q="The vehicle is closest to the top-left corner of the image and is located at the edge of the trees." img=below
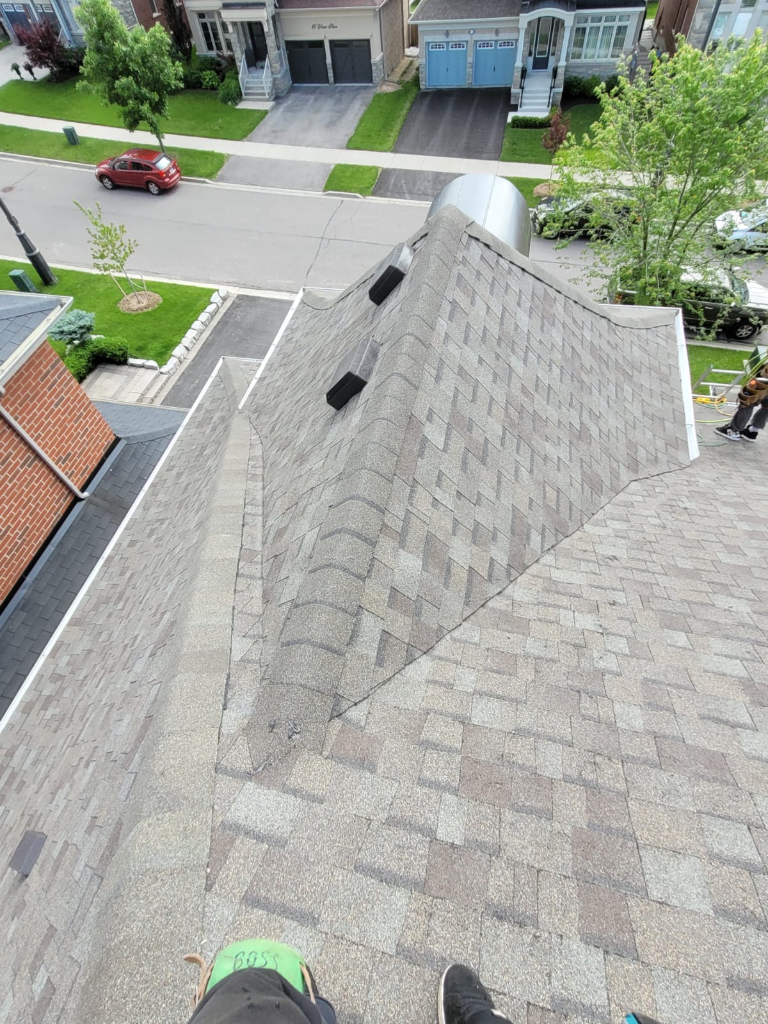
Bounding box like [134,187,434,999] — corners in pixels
[86,142,178,193]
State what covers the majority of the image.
buildings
